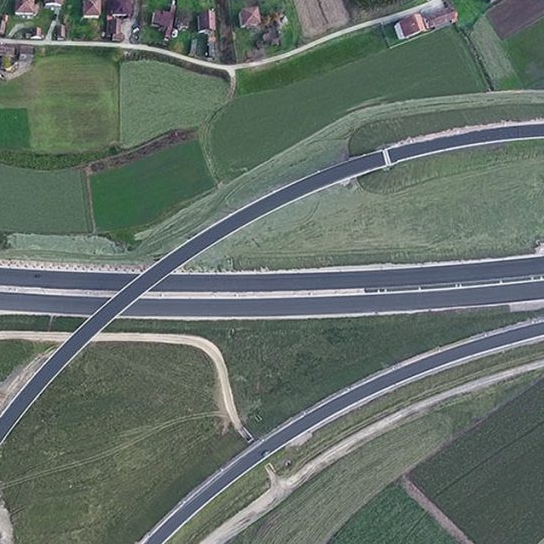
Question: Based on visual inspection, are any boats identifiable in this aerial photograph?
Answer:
No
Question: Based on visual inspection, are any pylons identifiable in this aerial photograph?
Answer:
No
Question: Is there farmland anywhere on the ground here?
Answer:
Yes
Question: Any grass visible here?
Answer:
Yes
